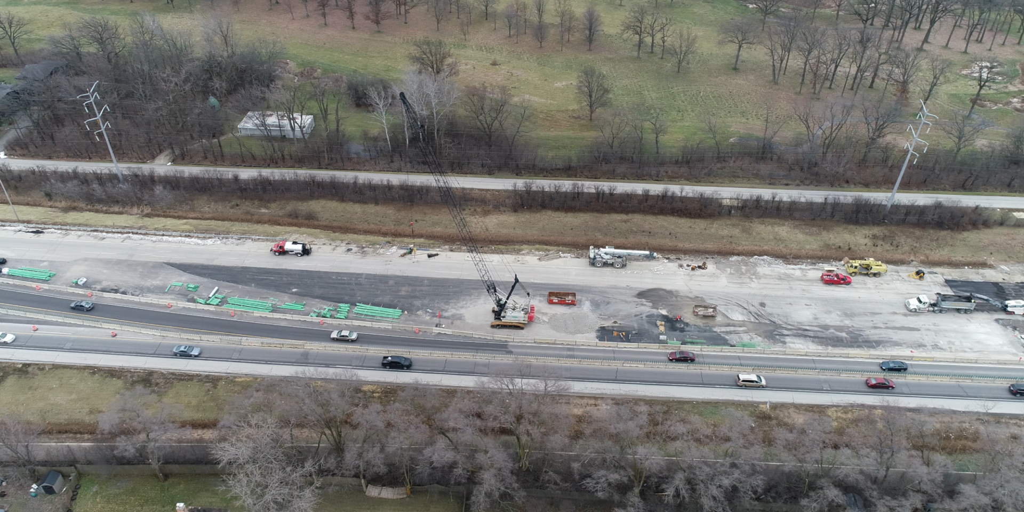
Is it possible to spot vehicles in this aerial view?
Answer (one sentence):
Yes, the photo shows a vehicle.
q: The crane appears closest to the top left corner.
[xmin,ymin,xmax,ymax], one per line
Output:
[397,92,534,330]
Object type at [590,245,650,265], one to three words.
crane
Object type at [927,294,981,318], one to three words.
trailer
